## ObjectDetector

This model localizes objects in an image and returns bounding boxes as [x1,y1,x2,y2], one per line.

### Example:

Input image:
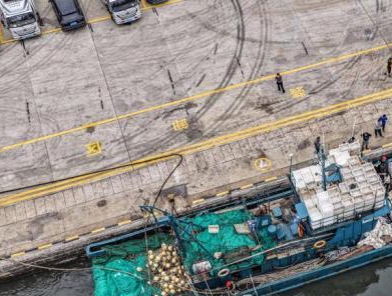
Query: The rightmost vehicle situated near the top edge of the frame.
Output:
[99,0,138,26]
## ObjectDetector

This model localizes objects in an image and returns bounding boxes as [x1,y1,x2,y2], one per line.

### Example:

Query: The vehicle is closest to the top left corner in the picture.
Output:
[0,0,40,44]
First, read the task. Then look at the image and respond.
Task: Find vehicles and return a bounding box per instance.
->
[0,0,40,44]
[99,0,138,26]
[50,0,86,30]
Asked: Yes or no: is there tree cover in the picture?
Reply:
No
